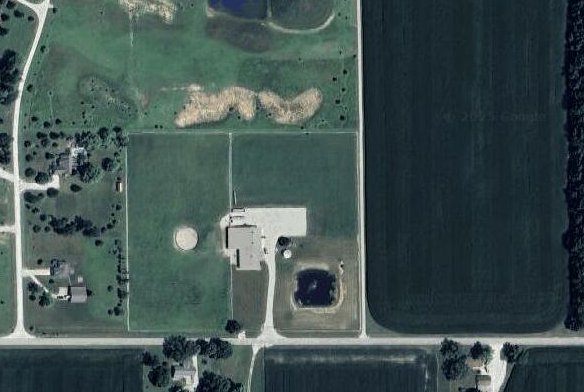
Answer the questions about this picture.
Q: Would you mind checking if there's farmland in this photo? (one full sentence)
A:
Yes, farmland shows up in the scene.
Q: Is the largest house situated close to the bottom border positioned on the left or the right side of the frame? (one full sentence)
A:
The largest house situated close to the bottom border appears in the left half of the scene.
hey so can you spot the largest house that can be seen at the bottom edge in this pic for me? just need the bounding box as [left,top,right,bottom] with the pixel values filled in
[174,358,195,388]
